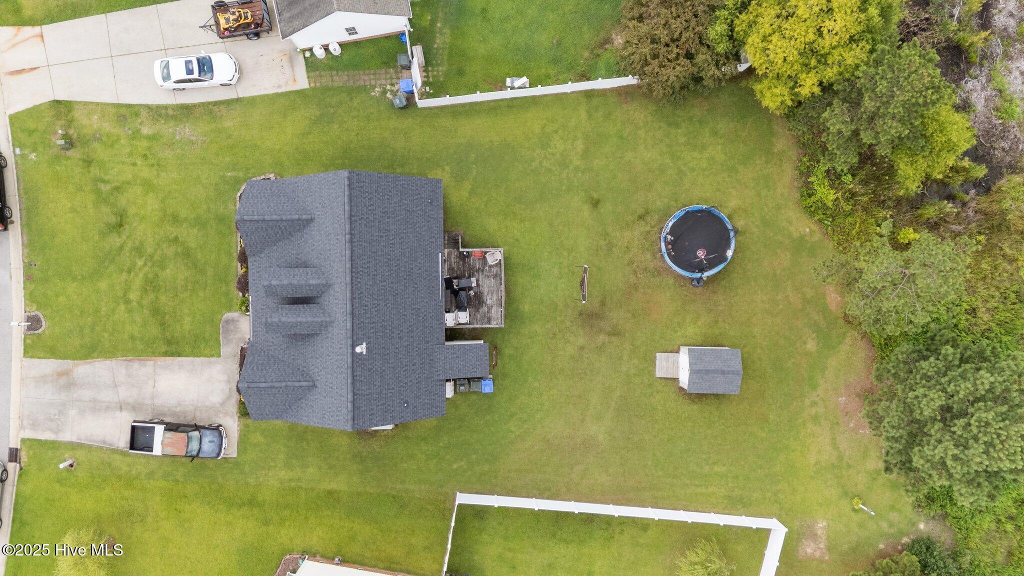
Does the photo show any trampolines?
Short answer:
Yes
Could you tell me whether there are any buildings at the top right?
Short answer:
No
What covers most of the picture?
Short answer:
grass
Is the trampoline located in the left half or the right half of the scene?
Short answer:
right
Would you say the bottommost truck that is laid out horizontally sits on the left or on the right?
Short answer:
left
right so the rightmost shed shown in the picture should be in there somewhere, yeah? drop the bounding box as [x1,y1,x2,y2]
[680,346,742,394]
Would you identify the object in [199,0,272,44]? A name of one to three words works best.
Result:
trailer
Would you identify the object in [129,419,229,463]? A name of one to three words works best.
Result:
truck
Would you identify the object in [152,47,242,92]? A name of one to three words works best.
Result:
car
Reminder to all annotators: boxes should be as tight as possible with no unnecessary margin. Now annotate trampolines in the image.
[657,202,738,279]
